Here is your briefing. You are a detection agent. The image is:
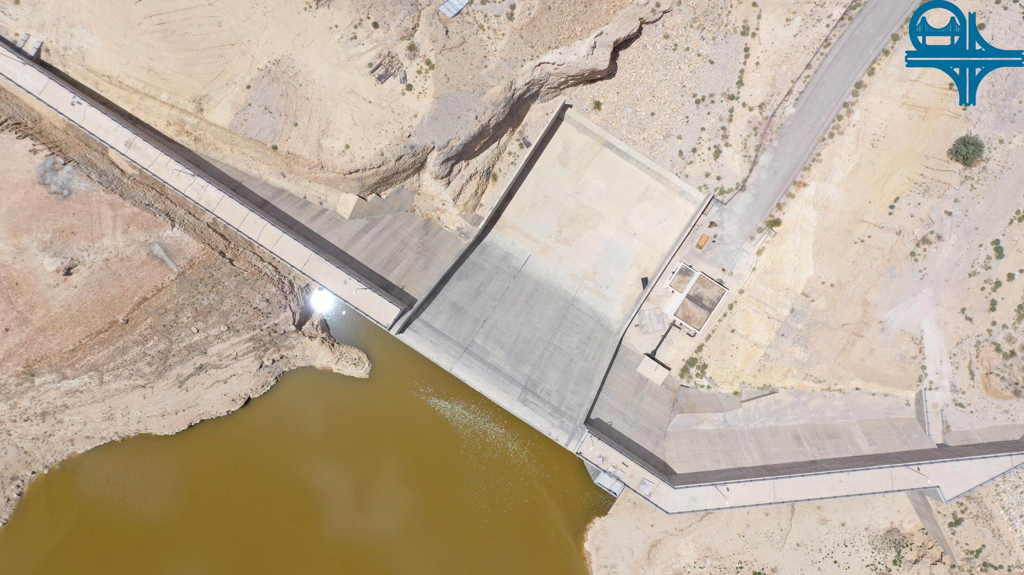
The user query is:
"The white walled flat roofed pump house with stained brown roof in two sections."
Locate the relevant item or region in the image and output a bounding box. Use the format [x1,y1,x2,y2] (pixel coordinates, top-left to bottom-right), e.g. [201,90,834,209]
[665,264,728,333]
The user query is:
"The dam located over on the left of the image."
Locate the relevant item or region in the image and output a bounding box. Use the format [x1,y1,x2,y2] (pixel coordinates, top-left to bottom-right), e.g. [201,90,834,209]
[0,36,412,331]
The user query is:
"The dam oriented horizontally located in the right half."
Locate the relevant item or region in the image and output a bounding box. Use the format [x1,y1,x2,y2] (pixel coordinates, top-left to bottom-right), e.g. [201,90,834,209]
[572,421,1024,514]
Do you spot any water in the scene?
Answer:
Yes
